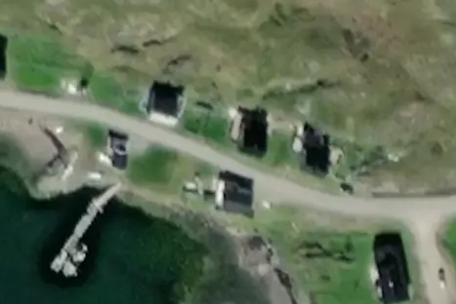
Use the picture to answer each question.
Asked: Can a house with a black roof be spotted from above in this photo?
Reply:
Yes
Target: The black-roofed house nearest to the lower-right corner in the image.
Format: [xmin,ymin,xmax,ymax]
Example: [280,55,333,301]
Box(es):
[374,240,409,304]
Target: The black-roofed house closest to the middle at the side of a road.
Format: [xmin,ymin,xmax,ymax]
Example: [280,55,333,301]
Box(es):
[237,127,267,157]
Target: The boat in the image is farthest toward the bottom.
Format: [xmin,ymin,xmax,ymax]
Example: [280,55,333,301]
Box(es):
[64,262,78,278]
